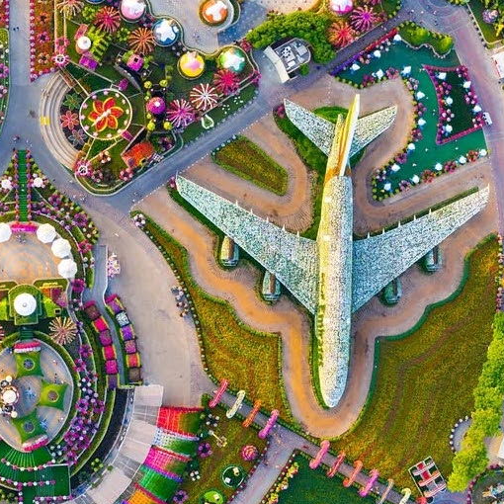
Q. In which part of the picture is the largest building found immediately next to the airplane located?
top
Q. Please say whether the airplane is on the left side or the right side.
right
